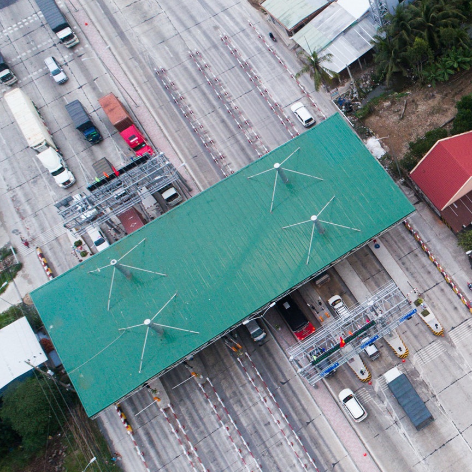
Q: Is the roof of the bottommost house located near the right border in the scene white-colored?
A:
No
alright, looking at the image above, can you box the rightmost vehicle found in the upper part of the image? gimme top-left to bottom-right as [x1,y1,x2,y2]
[293,105,316,129]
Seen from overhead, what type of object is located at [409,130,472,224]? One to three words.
house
